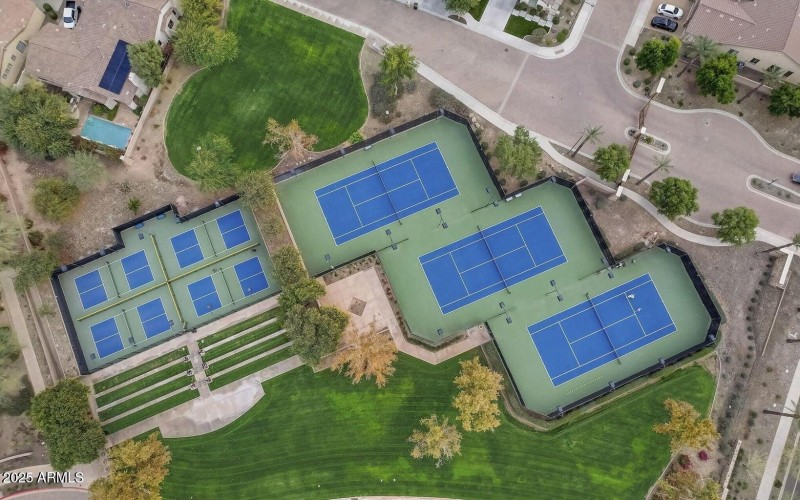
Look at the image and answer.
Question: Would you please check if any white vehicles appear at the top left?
Yes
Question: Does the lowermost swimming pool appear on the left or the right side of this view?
left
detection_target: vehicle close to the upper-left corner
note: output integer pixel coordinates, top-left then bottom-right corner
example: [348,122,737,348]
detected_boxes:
[62,1,80,29]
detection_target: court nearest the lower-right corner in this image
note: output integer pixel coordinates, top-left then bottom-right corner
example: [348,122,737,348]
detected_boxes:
[486,247,710,415]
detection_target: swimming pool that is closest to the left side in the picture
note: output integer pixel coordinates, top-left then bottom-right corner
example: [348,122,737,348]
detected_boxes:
[80,115,132,149]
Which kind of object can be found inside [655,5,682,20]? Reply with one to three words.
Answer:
car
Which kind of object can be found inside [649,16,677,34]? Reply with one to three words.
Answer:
car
